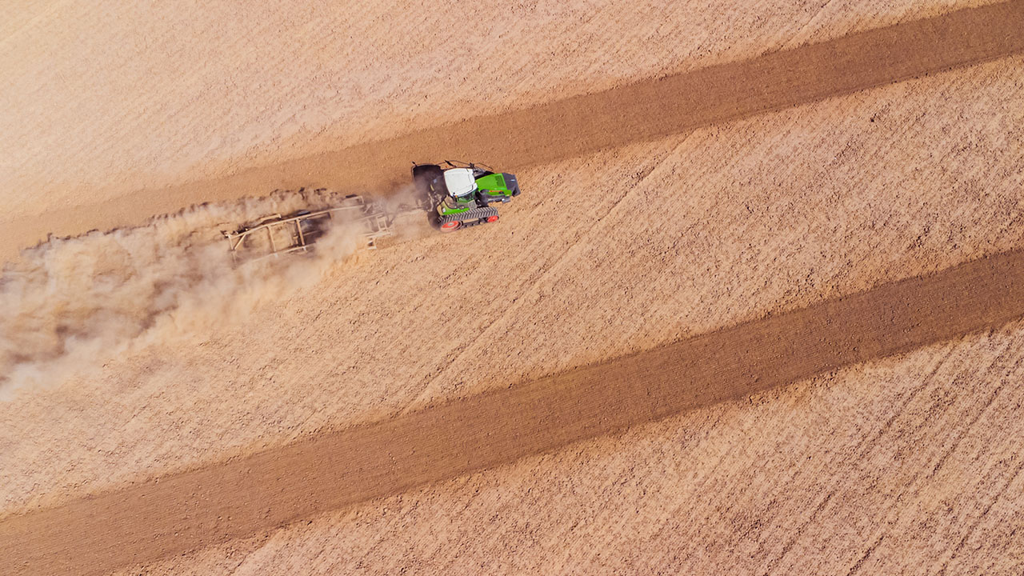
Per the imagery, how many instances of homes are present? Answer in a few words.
zero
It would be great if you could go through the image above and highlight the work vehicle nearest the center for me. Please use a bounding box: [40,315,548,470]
[414,164,519,233]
